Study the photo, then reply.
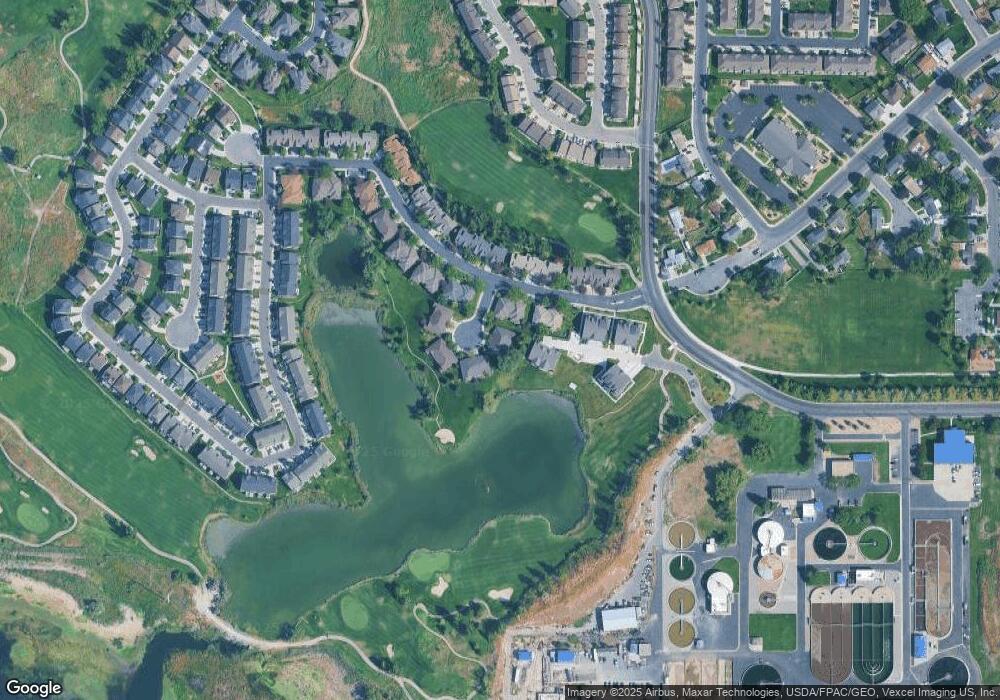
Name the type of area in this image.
residential area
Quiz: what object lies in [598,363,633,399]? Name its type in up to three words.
building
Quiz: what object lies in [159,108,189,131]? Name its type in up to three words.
house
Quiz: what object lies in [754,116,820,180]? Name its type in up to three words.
building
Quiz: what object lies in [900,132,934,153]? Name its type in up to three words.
house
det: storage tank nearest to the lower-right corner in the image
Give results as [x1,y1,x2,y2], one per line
[927,657,970,698]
